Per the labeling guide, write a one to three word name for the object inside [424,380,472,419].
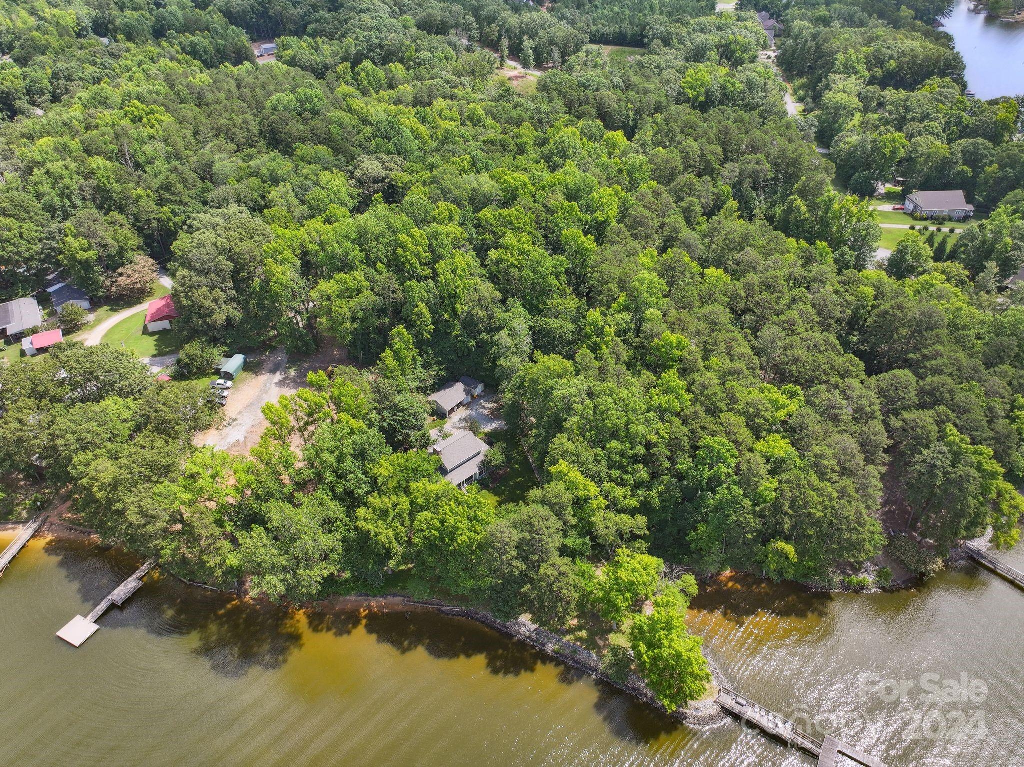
building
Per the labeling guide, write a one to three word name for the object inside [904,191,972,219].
house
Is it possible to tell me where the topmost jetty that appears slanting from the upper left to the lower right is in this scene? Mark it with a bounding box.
[961,547,1024,588]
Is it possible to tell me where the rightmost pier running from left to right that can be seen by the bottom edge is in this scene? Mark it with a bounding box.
[818,736,888,767]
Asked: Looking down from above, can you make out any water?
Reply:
Yes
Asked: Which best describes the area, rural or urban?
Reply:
rural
